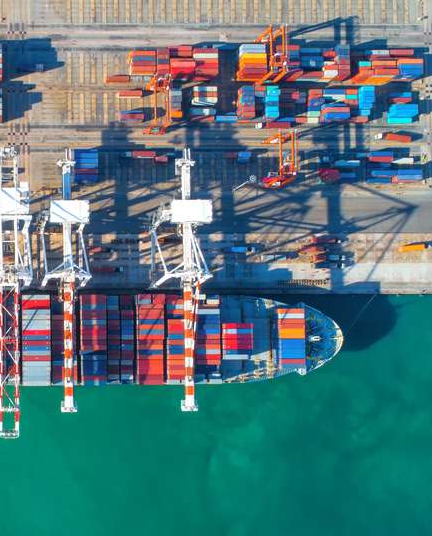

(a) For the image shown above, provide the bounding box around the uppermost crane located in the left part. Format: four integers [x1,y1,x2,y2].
[141,72,173,136]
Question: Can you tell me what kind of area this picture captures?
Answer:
port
